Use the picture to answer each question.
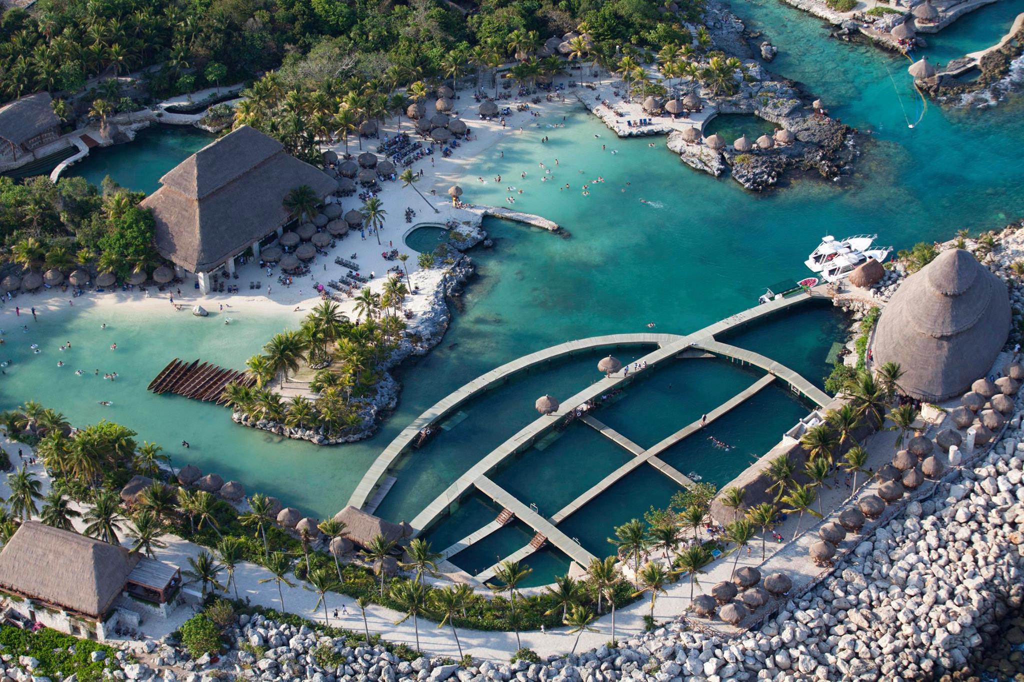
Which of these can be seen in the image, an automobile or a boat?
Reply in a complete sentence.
Looking from above, you can make out a boat.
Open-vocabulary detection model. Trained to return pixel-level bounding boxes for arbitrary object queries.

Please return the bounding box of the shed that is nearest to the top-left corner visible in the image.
[0,98,62,157]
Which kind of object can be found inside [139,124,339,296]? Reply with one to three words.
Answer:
building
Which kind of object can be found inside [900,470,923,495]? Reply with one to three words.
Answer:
umbrella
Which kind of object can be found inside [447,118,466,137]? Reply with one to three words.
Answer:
umbrella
